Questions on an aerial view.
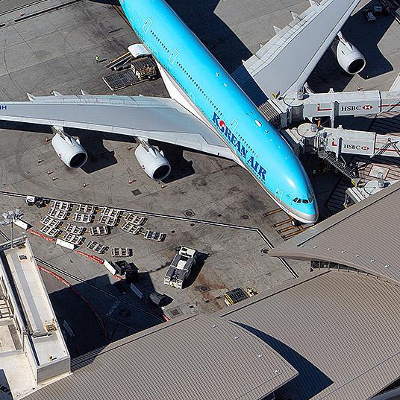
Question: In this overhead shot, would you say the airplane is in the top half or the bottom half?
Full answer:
The top half of the photo is where the airplane is.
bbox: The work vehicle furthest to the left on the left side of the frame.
[22,192,43,207]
